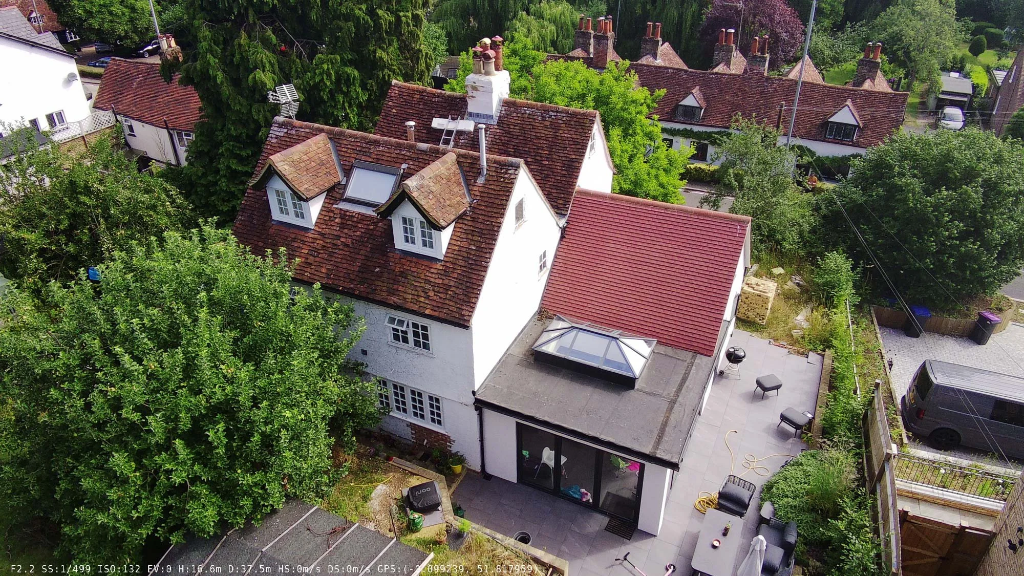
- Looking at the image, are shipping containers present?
No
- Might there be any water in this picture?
No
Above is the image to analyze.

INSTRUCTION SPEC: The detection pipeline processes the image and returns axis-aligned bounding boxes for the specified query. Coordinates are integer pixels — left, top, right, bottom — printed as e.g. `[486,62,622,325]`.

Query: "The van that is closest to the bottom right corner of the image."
[900,355,1024,463]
